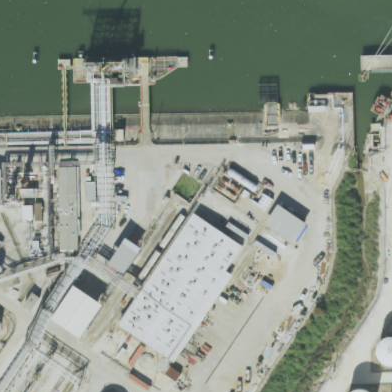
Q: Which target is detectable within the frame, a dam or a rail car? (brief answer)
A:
rail car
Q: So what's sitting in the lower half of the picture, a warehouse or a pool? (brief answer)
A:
warehouse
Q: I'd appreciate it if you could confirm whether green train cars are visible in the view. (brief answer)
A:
No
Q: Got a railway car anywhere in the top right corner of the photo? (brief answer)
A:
No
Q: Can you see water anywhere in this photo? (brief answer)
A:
Yes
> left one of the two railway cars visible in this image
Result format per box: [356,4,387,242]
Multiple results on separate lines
[138,250,162,281]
